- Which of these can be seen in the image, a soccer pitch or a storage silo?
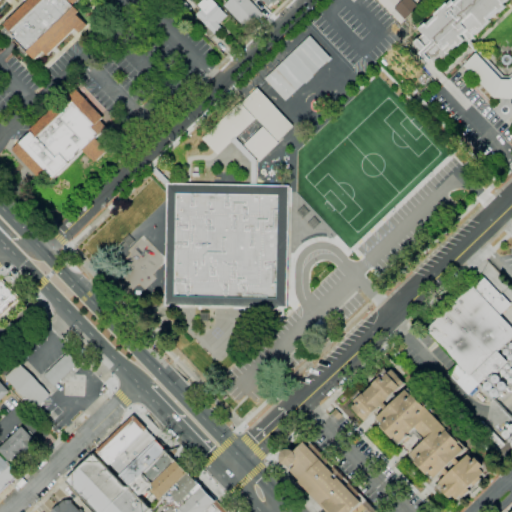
soccer pitch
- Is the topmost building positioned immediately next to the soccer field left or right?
right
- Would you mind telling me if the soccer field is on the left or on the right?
right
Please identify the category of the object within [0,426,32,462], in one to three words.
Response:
building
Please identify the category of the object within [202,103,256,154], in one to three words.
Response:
building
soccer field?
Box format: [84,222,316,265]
[298,77,452,247]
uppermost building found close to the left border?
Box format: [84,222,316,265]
[3,0,86,57]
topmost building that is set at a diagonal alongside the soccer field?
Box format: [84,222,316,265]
[418,0,510,62]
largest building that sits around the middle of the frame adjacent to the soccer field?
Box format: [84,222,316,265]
[166,184,292,306]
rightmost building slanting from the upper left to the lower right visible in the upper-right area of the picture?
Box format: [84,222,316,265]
[463,51,512,100]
